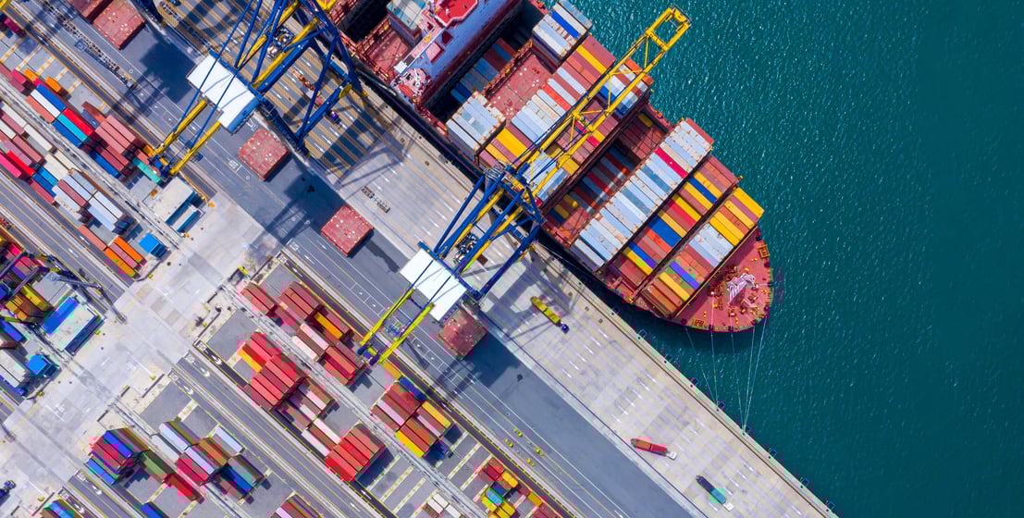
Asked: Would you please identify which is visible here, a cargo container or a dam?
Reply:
cargo container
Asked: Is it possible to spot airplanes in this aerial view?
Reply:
No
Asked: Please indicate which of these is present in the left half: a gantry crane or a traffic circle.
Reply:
gantry crane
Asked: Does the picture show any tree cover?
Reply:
No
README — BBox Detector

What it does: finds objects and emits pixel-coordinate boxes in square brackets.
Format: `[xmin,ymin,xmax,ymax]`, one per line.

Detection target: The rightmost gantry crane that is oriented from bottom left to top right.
[352,3,694,371]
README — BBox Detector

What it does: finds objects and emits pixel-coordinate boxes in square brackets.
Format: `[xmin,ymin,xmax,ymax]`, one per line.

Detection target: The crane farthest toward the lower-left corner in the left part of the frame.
[0,250,89,335]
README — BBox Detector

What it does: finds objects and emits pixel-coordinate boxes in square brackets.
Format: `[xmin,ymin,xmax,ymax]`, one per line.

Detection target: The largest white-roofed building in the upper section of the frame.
[148,176,201,234]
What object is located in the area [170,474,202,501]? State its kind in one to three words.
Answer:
shipping container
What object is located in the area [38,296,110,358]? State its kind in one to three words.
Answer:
building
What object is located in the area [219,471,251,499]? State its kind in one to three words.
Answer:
shipping container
